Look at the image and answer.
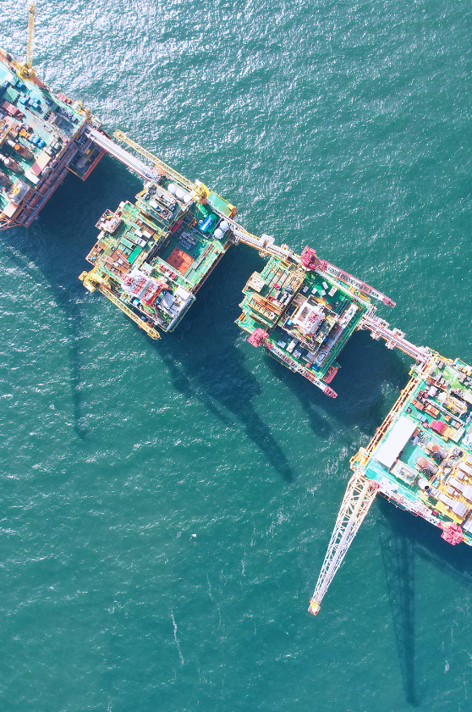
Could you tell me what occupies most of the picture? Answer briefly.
water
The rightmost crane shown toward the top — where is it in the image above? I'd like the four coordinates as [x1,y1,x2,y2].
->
[292,247,397,309]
